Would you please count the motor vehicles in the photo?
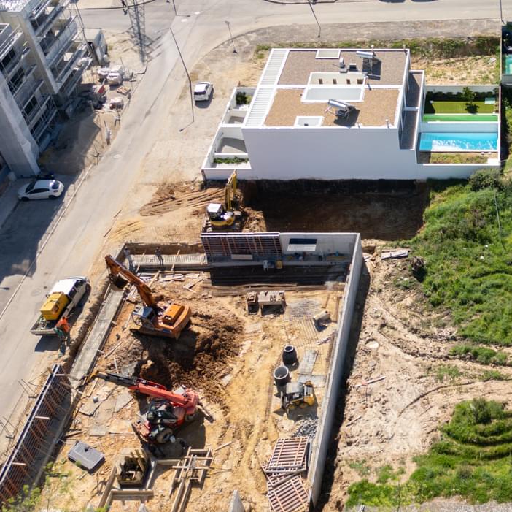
7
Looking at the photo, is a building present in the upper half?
Yes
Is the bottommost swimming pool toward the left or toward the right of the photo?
right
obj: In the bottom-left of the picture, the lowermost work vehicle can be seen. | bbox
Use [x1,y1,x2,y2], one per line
[68,377,205,460]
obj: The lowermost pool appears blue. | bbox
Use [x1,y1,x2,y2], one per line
[423,133,499,154]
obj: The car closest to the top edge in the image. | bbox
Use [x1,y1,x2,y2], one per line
[190,80,216,104]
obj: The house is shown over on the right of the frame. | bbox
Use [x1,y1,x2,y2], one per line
[242,47,429,181]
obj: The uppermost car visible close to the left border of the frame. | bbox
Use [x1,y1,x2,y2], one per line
[15,176,66,201]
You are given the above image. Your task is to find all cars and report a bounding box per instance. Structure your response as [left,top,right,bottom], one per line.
[190,80,216,104]
[15,176,66,201]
